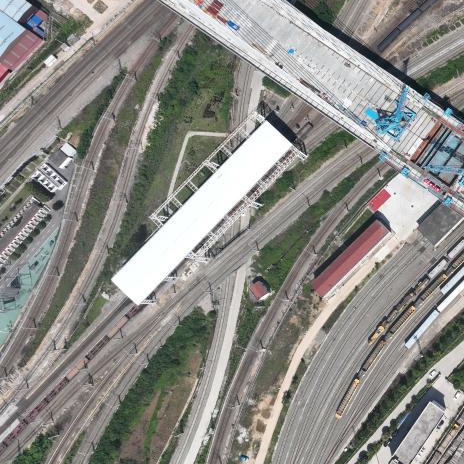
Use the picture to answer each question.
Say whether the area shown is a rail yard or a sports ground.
rail yard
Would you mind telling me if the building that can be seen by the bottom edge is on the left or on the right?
right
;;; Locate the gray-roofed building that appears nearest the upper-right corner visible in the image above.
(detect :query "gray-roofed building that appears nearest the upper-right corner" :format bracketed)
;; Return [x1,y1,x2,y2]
[416,199,462,245]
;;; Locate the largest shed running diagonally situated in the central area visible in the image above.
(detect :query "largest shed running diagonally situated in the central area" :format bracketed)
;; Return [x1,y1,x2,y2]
[110,109,312,317]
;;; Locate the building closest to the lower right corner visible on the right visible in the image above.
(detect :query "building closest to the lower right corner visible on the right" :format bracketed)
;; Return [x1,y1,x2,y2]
[389,396,447,464]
